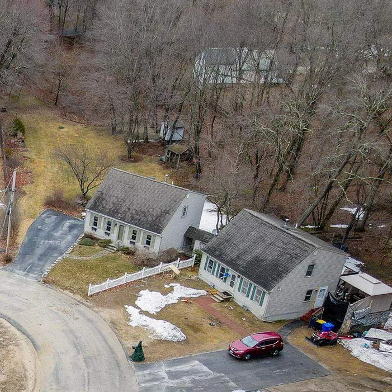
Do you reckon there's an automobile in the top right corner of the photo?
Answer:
No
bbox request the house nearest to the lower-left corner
[85,167,208,257]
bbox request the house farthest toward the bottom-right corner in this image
[199,208,349,321]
